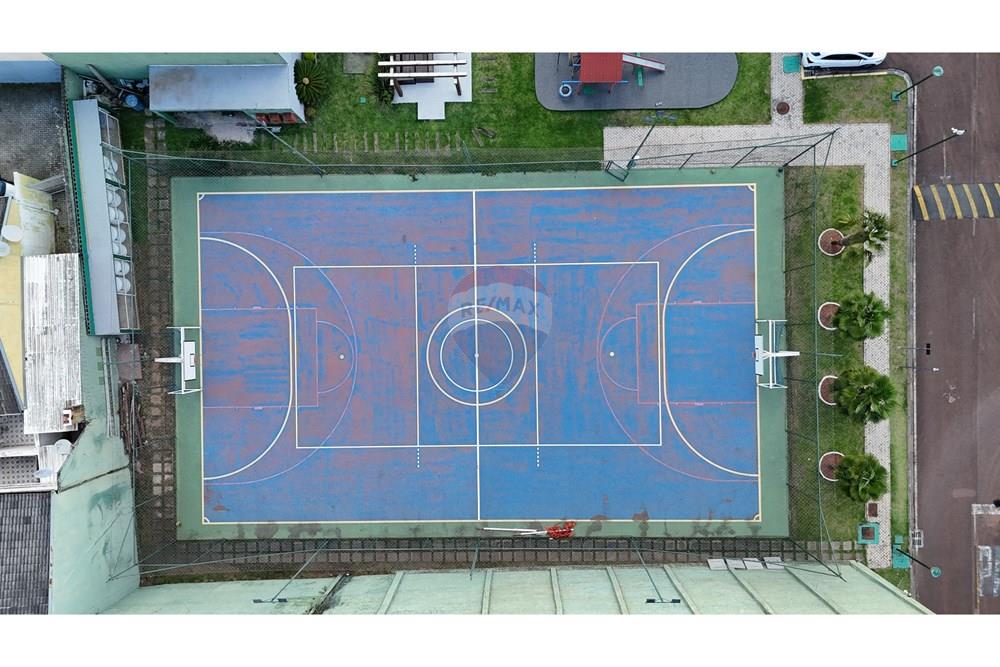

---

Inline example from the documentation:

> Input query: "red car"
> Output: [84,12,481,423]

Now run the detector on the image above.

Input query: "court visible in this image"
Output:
[172,167,790,540]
